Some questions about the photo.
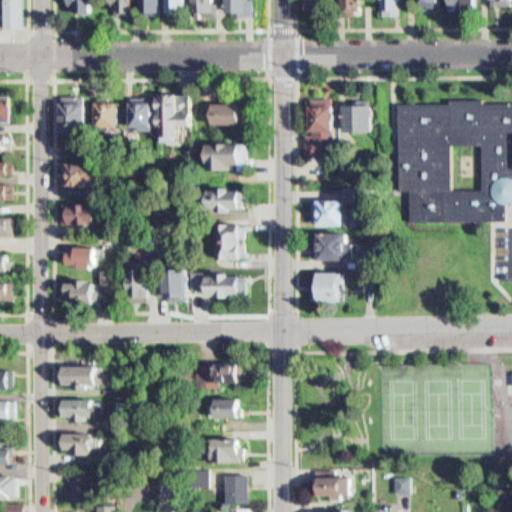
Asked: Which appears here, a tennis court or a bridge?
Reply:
tennis court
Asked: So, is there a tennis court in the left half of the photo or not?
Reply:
No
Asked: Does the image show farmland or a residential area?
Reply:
residential area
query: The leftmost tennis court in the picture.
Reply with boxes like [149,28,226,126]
[382,364,422,453]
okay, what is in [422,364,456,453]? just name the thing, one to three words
tennis court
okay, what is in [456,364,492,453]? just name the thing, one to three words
tennis court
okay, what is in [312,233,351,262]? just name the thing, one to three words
house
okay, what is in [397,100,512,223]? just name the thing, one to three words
building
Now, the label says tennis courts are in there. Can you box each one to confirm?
[422,364,456,453]
[456,364,492,453]
[382,364,422,453]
